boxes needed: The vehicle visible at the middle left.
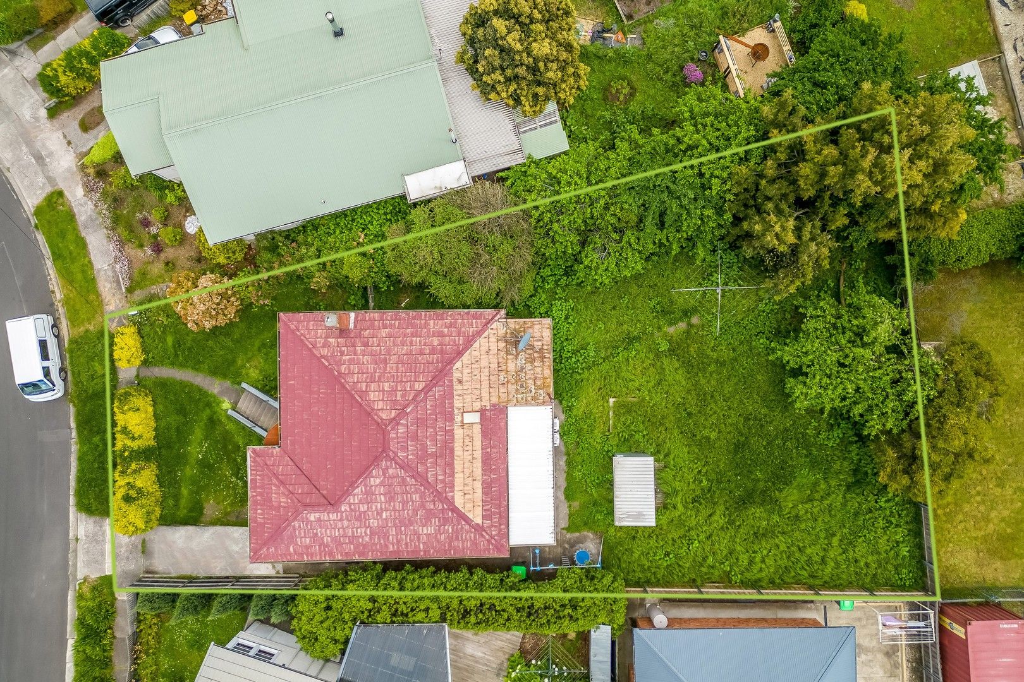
[5,313,68,404]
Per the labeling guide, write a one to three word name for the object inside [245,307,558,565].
house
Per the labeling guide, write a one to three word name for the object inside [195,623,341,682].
house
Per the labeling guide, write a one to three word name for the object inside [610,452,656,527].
shed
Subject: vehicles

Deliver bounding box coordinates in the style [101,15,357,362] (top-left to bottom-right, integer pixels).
[127,16,189,50]
[85,0,162,30]
[5,313,68,404]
